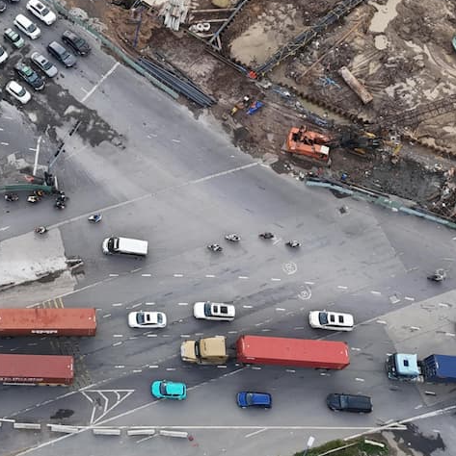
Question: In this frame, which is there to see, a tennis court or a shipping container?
shipping container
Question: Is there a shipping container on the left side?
Yes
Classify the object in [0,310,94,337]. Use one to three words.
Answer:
shipping container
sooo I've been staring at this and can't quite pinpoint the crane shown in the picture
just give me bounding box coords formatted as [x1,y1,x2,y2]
[293,96,456,165]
